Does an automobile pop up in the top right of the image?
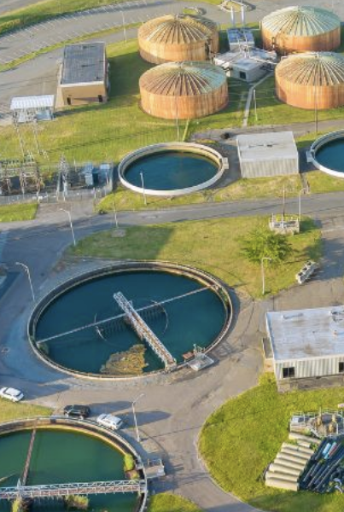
No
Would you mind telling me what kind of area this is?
industrial area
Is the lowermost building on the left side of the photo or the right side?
right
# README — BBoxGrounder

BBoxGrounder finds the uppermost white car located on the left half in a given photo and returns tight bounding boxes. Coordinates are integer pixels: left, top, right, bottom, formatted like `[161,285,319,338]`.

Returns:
[0,387,25,402]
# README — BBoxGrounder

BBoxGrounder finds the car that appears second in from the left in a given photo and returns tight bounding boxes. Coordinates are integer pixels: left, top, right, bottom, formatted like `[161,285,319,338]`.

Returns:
[59,403,91,419]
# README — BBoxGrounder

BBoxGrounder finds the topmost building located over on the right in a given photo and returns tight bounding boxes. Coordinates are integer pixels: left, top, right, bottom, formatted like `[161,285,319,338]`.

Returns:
[204,5,278,92]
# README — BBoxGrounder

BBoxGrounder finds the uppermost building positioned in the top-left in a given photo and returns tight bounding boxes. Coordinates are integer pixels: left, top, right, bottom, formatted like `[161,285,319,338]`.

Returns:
[52,40,110,104]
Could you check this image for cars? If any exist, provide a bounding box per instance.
[59,403,91,419]
[0,387,25,402]
[94,411,125,431]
